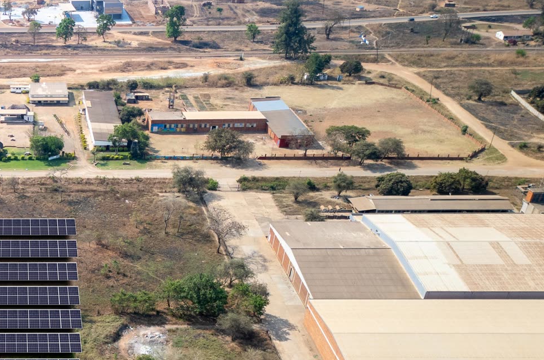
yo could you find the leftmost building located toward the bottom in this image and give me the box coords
[265,219,416,309]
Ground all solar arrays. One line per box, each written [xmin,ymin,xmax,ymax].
[0,240,77,260]
[0,310,82,333]
[0,287,80,309]
[0,219,77,240]
[0,263,78,281]
[0,334,82,357]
